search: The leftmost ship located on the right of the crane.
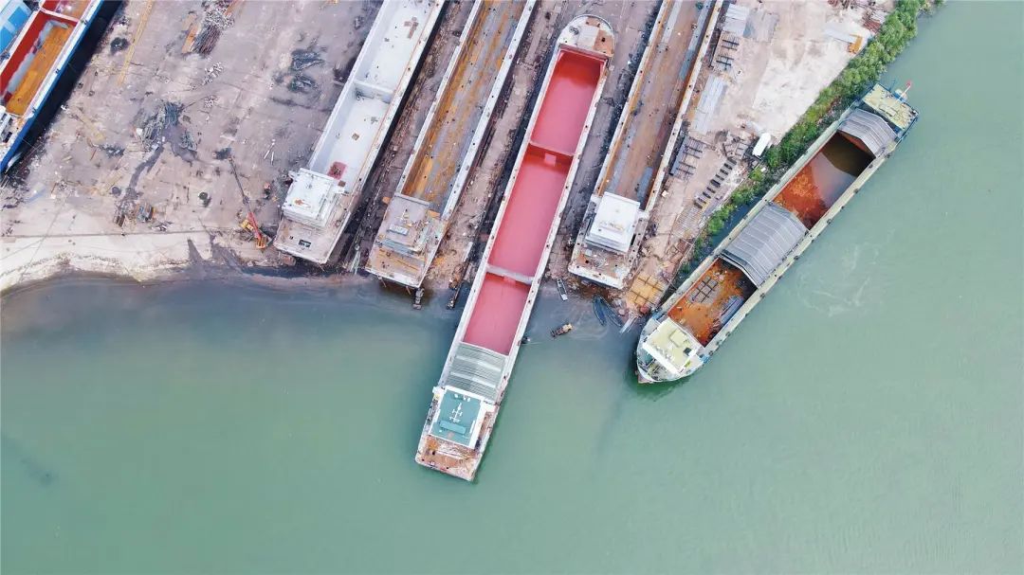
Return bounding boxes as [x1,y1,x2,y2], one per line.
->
[274,0,450,268]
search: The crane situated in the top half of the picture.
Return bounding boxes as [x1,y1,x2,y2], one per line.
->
[228,157,271,248]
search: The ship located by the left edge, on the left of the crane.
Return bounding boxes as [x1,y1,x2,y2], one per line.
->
[0,0,126,196]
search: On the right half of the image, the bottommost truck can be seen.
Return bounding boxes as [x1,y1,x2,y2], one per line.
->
[751,131,773,157]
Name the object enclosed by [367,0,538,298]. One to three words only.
ship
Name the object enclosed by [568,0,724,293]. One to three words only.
ship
